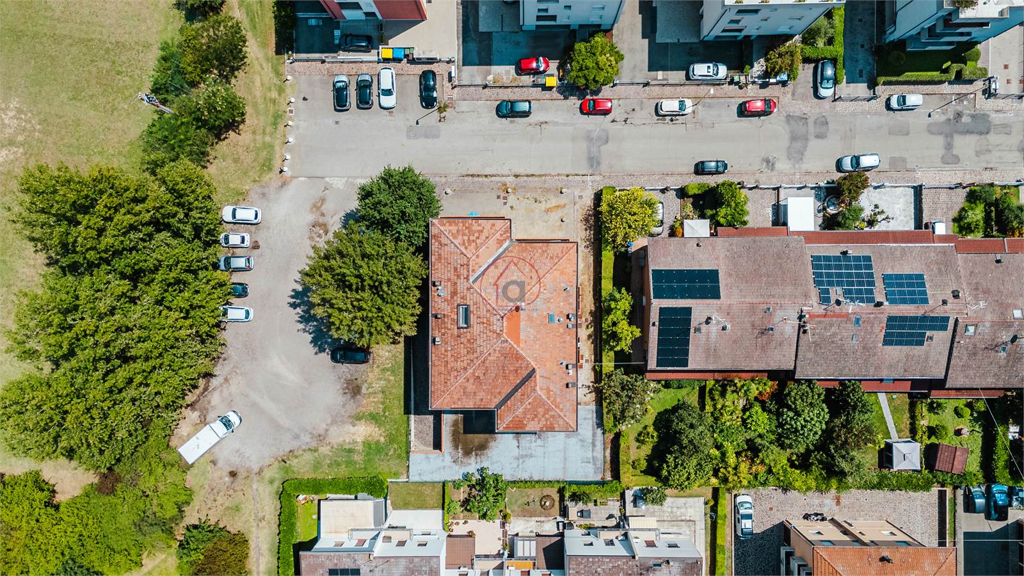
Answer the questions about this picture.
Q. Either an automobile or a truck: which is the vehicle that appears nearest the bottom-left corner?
truck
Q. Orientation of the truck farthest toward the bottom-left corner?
at an angle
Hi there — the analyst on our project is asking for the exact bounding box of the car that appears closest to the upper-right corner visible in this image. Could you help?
[886,92,923,110]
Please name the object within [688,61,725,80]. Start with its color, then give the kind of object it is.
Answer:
white car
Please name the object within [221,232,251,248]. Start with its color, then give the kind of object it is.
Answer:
white car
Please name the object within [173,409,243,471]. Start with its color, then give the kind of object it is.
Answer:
white truck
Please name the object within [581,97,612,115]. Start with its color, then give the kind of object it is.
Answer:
red car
